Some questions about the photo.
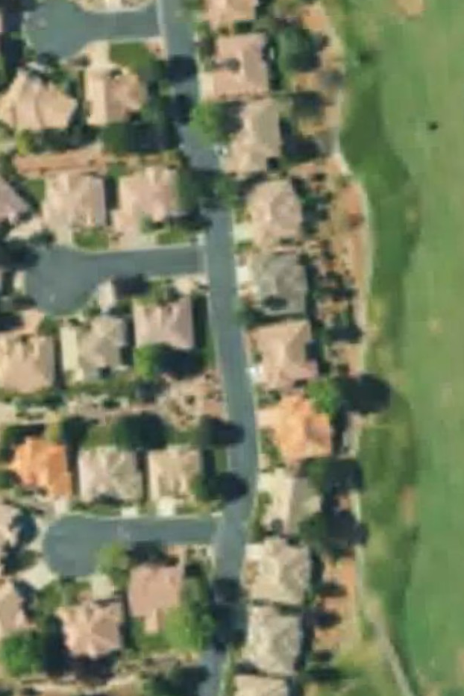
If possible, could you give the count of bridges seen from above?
0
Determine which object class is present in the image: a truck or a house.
house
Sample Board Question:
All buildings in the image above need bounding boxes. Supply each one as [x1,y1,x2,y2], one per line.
[78,445,145,504]
[197,0,258,23]
[261,469,316,533]
[225,98,284,170]
[247,321,317,386]
[0,176,28,231]
[252,253,309,317]
[127,565,185,635]
[270,396,332,461]
[114,169,175,232]
[7,437,71,499]
[43,174,107,232]
[212,31,269,99]
[0,66,75,134]
[241,609,304,675]
[0,579,37,645]
[237,676,289,696]
[147,449,203,504]
[0,504,22,572]
[245,537,311,607]
[245,180,302,251]
[0,331,56,393]
[78,315,129,381]
[85,69,145,126]
[56,604,125,658]
[132,300,195,351]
